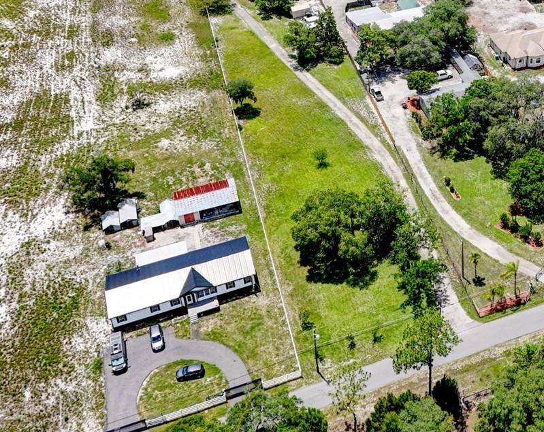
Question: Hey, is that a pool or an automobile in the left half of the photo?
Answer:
automobile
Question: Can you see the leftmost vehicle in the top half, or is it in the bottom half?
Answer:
bottom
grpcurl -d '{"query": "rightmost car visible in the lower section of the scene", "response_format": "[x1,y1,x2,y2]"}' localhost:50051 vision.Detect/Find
[174,361,208,382]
